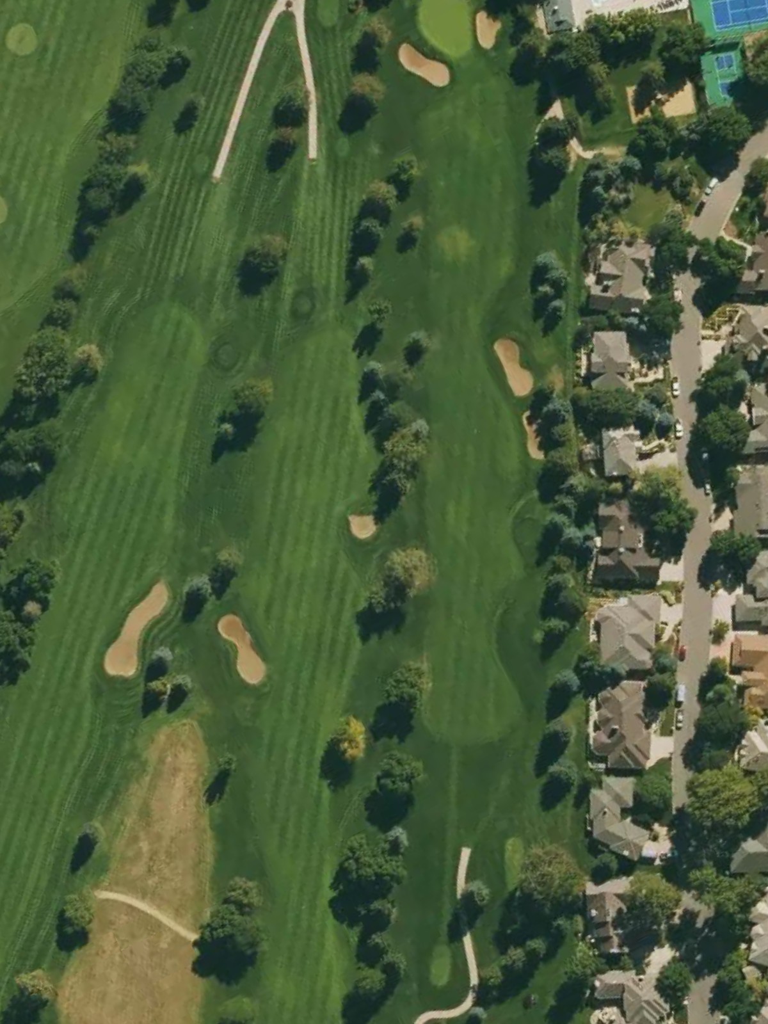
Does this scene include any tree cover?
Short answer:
Yes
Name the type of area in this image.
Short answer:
golf course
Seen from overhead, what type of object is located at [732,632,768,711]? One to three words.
house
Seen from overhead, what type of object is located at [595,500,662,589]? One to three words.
house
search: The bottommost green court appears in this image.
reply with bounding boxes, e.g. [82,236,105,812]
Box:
[704,40,752,101]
